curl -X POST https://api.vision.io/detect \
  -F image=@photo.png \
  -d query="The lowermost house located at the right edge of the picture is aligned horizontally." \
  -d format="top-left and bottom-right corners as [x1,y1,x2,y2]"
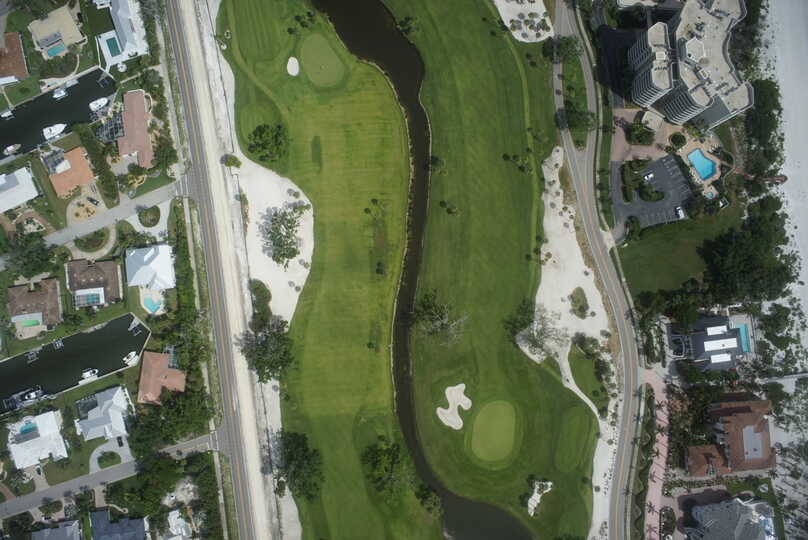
[682,497,775,540]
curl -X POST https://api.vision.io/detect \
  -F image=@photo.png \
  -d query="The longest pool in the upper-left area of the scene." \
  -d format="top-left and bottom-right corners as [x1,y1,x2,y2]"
[40,38,70,60]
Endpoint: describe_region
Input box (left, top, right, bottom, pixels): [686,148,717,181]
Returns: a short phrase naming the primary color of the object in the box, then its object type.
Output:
blue swimming pool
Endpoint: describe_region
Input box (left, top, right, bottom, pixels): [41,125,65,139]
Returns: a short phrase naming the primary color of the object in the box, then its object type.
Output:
white boat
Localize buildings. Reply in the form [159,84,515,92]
[126,246,177,290]
[79,387,128,441]
[686,316,744,370]
[66,261,122,304]
[10,411,69,469]
[612,0,661,13]
[117,91,155,168]
[628,0,754,127]
[92,508,148,540]
[170,511,193,540]
[139,351,186,403]
[29,6,86,48]
[682,497,775,540]
[716,398,776,474]
[8,278,63,324]
[48,147,96,198]
[0,32,29,81]
[93,0,139,53]
[642,111,664,131]
[33,519,86,540]
[0,167,38,214]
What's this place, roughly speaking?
golf course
